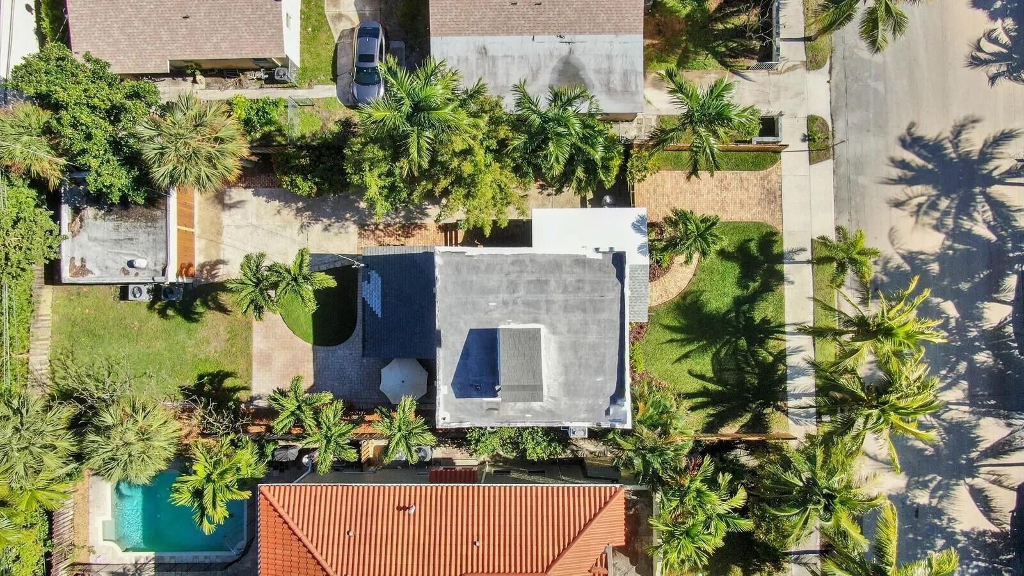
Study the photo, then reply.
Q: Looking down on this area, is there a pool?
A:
Yes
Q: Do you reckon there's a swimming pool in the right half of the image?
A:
No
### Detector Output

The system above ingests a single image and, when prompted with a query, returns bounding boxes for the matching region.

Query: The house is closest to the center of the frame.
[361,207,648,438]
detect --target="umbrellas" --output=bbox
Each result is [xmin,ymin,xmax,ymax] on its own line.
[276,439,304,465]
[382,358,427,400]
